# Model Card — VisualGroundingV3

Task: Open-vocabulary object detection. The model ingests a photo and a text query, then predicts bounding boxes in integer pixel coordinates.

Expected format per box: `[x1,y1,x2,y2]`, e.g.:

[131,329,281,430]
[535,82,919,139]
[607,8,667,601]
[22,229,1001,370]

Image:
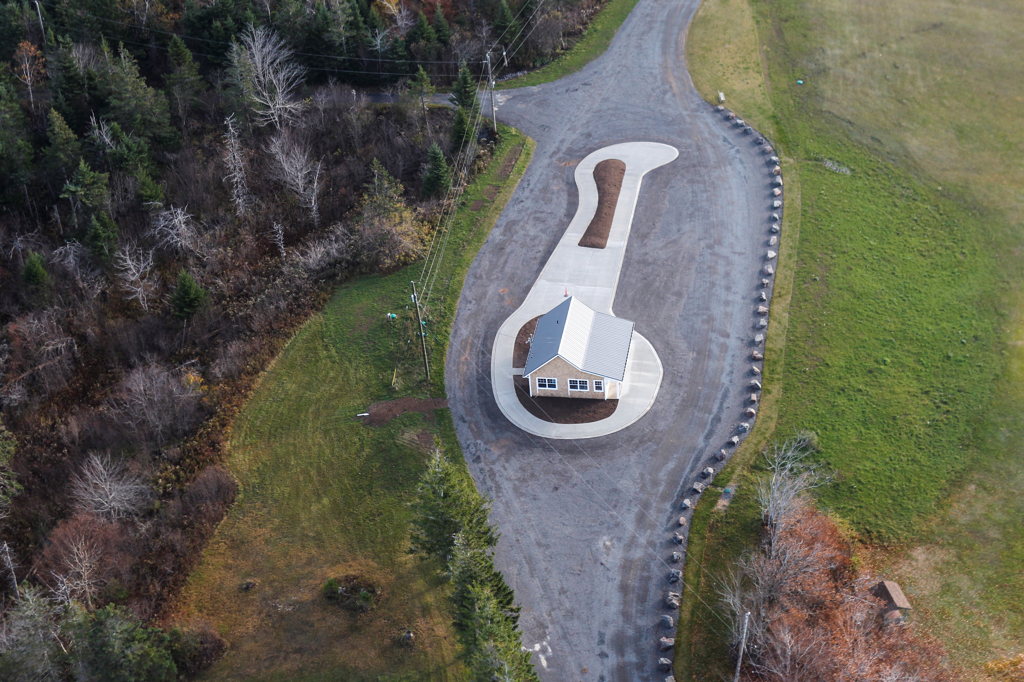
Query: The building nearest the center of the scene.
[522,296,634,399]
